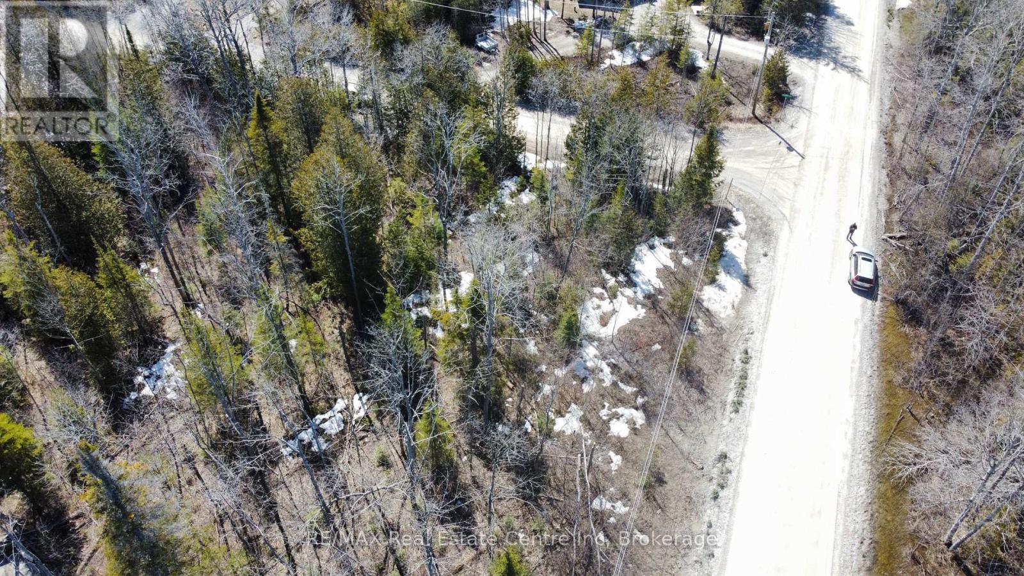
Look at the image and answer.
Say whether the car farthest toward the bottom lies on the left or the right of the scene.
right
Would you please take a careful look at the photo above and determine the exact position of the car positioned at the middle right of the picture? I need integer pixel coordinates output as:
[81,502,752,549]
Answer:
[850,244,880,291]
